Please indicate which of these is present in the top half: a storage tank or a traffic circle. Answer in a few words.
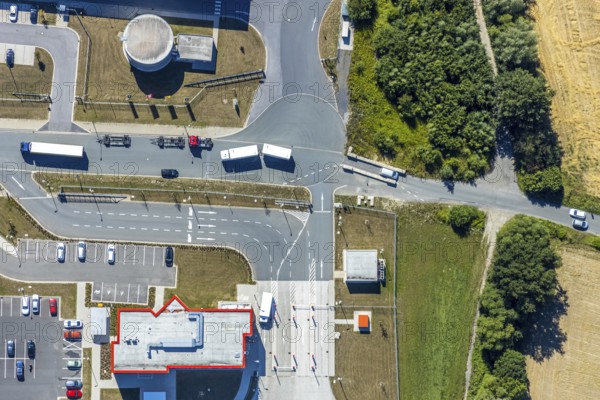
storage tank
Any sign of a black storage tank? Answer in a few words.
No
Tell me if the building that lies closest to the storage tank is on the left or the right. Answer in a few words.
left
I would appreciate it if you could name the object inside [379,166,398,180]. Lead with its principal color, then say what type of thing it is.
white vehicle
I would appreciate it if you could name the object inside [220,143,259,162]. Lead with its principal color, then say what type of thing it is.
white vehicle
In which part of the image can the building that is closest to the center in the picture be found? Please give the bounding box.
[346,249,377,281]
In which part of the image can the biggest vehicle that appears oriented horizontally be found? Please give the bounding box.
[19,141,85,158]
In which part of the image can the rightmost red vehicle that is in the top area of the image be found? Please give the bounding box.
[188,135,213,149]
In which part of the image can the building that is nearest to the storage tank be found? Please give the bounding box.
[178,34,213,63]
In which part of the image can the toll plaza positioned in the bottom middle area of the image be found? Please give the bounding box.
[237,281,335,400]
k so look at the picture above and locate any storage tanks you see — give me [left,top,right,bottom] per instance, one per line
[116,15,182,71]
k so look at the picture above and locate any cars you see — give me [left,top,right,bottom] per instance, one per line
[165,248,173,266]
[16,361,25,380]
[31,295,39,313]
[9,4,18,22]
[57,243,65,261]
[66,360,82,368]
[568,208,587,218]
[63,330,82,339]
[29,5,38,24]
[6,49,14,66]
[27,340,36,358]
[49,299,57,315]
[571,219,589,229]
[66,380,83,389]
[107,245,115,263]
[66,389,83,398]
[64,320,83,329]
[21,295,30,314]
[161,169,179,177]
[6,339,15,357]
[77,242,86,260]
